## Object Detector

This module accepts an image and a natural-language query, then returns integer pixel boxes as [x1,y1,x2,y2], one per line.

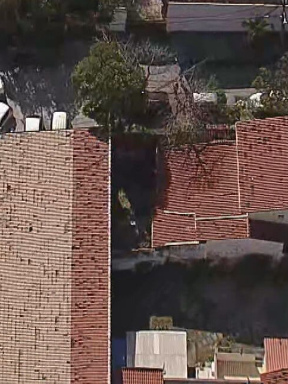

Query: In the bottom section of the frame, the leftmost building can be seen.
[0,131,112,384]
